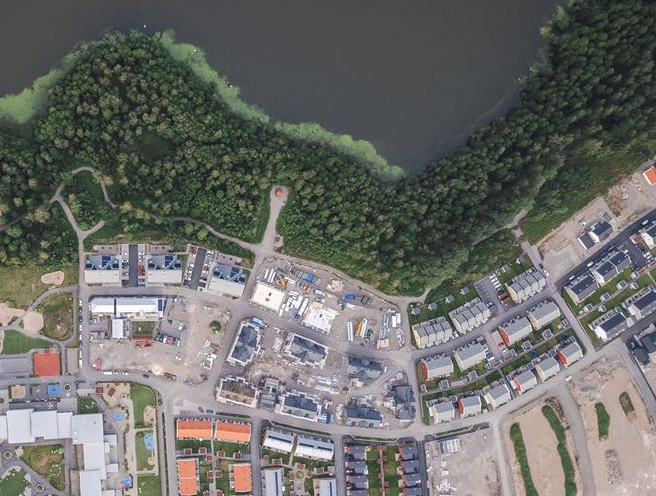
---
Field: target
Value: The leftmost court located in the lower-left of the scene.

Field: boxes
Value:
[0,355,31,377]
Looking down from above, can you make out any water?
Yes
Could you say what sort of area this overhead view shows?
residential area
